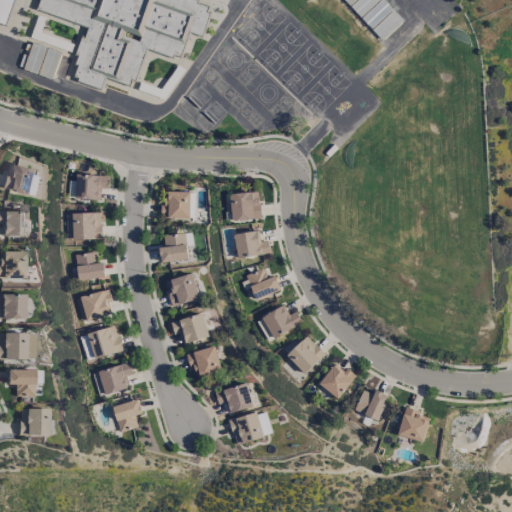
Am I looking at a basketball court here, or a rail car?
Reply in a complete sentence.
It is a basketball court that can be seen here.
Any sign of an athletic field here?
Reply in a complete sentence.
Yes, looking at the shot, I can spot an athletic field.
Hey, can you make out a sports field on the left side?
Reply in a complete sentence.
No, there is no sports field on the left side.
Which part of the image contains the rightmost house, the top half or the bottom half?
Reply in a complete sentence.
The bottom half of the photo is where the rightmost house is.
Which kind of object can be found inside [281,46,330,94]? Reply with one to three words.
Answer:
basketball court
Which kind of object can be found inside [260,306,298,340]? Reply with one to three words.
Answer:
house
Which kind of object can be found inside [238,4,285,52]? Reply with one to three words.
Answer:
basketball court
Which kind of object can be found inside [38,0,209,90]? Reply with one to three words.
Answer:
building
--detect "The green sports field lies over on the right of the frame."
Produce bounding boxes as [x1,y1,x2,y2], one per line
[316,15,500,363]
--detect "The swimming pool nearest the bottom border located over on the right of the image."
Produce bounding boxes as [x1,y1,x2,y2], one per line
[396,449,418,462]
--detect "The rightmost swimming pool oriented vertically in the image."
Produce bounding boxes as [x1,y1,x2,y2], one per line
[224,228,237,258]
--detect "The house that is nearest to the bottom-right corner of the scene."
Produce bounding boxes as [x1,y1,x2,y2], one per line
[399,403,430,440]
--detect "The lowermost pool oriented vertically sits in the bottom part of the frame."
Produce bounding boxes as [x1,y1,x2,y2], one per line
[99,400,112,426]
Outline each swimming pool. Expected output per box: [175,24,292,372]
[99,400,112,426]
[396,449,418,462]
[198,191,206,208]
[224,228,237,258]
